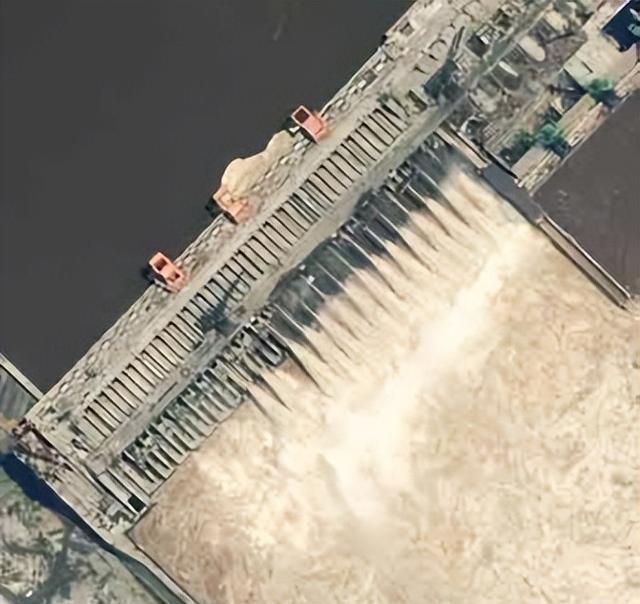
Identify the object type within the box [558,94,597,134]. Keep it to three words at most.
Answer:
shed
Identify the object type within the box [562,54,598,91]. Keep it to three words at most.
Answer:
building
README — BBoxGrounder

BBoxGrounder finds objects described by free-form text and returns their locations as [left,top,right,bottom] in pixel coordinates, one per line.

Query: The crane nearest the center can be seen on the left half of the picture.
[211,276,244,333]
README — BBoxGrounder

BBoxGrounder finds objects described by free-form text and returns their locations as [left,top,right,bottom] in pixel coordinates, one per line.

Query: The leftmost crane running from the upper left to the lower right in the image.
[148,254,187,293]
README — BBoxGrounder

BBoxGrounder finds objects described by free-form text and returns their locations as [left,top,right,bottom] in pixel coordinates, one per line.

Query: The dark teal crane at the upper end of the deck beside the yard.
[432,26,464,107]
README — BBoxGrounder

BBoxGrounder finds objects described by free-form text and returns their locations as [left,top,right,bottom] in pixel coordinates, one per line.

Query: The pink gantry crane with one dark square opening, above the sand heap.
[291,106,329,145]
